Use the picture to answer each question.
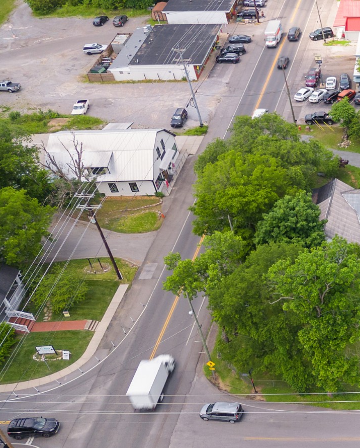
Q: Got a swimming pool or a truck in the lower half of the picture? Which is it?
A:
truck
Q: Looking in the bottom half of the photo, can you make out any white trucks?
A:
Yes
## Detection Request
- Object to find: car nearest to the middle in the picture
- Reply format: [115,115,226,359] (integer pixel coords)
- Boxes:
[172,110,187,126]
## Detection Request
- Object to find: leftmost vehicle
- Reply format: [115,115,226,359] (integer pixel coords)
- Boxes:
[0,81,24,93]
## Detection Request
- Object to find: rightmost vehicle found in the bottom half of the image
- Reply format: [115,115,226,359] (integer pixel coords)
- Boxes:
[198,400,247,425]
